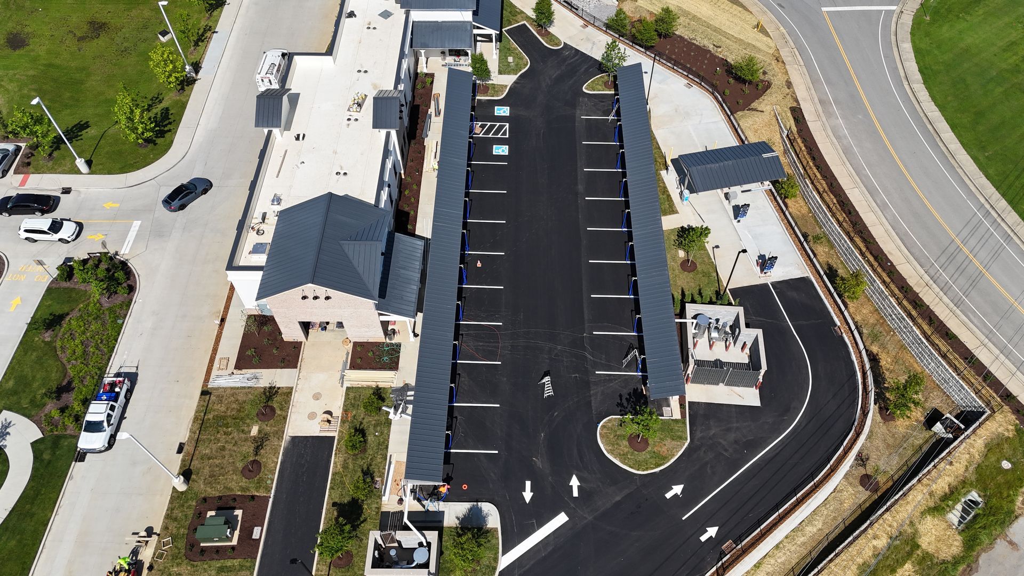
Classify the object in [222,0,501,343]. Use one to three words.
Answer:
building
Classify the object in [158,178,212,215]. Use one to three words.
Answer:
car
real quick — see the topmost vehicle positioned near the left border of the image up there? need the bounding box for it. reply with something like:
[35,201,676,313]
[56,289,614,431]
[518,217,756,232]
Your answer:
[0,144,21,182]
